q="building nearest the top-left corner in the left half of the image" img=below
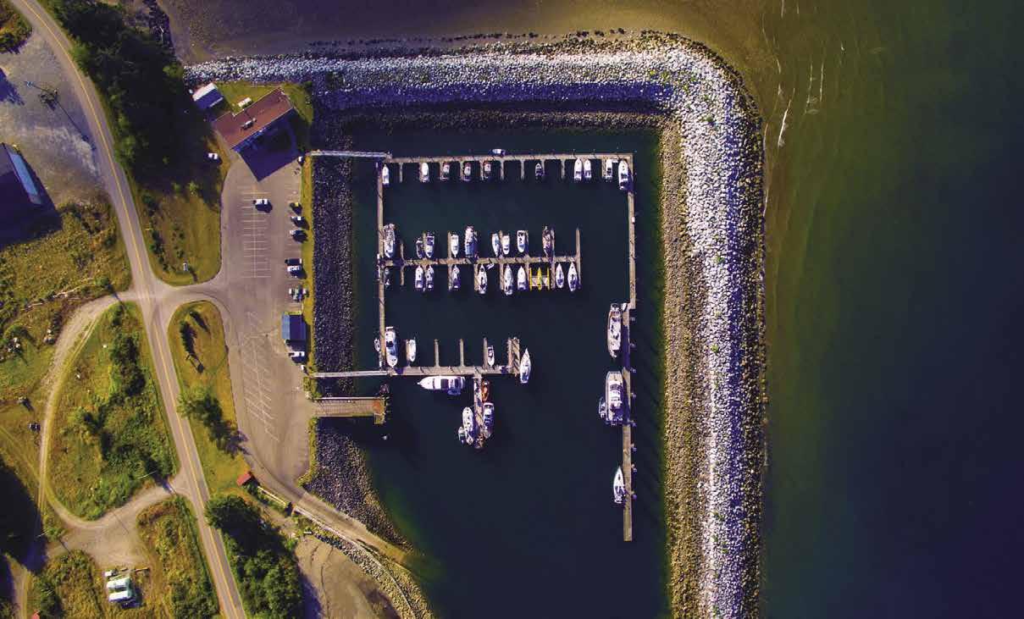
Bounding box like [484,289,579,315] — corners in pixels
[0,142,48,229]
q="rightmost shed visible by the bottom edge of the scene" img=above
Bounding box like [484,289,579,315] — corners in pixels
[105,572,139,603]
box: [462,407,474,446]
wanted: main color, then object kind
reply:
white boat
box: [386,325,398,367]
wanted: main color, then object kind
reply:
white boat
